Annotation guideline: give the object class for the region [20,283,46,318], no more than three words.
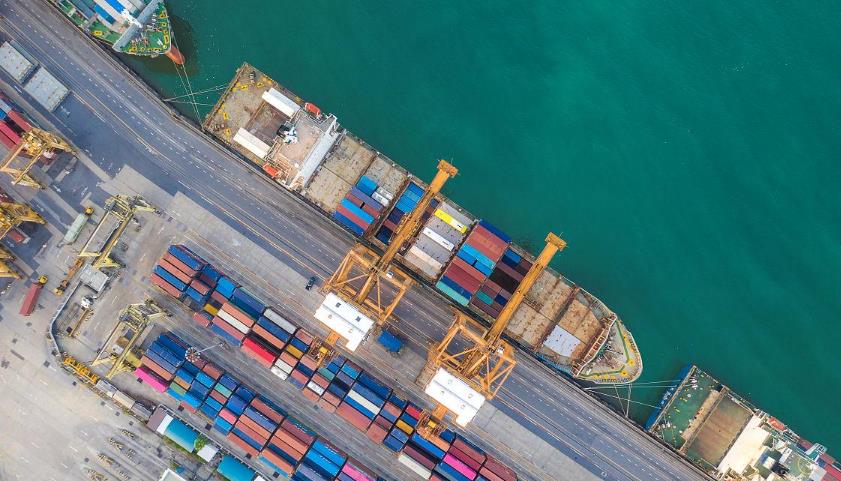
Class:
shipping container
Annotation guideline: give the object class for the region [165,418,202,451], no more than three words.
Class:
building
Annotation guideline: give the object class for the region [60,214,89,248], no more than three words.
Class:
shipping container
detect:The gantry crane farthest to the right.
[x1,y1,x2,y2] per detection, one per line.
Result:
[412,230,574,443]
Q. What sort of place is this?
port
